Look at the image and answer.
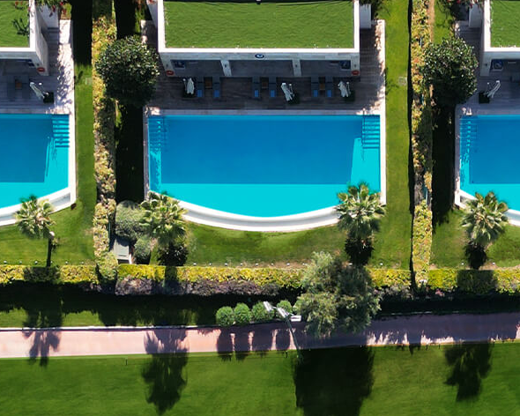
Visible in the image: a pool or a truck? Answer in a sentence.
Of the two, only a pool appears.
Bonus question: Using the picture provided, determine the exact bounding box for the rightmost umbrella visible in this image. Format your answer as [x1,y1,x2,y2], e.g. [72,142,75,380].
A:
[478,83,492,105]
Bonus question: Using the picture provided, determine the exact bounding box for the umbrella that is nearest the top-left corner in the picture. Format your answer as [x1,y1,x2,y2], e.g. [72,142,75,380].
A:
[37,83,55,103]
